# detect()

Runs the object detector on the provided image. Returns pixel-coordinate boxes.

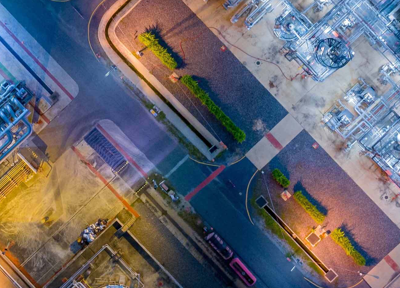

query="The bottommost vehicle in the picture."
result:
[230,259,258,288]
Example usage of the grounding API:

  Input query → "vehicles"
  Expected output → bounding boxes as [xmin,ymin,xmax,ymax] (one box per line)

[207,233,234,262]
[230,259,258,288]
